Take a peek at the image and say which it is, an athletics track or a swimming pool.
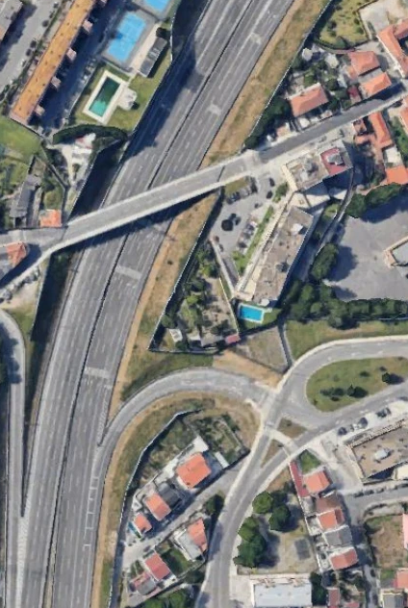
swimming pool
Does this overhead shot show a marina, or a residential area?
residential area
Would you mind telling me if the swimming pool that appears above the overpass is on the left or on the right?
left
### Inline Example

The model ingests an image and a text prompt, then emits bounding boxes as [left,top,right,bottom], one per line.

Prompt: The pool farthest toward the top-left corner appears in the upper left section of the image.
[80,67,130,121]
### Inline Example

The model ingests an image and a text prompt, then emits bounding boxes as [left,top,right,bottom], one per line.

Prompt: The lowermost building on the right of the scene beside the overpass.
[250,206,313,305]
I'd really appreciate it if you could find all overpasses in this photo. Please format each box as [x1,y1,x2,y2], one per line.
[55,151,266,247]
